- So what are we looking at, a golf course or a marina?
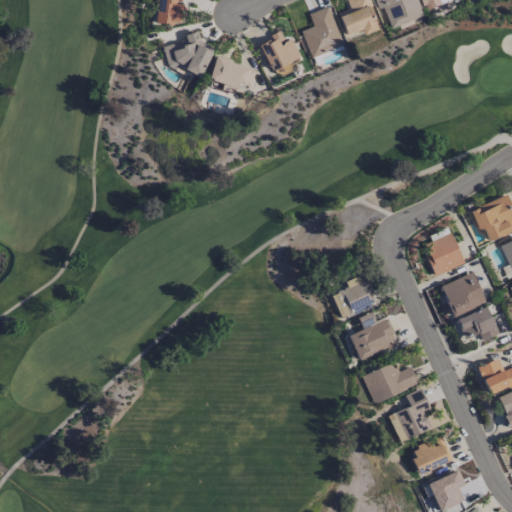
golf course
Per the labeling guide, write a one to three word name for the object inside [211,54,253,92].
house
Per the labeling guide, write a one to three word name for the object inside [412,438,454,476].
house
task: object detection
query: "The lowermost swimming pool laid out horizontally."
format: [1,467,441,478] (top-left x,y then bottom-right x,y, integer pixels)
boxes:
[207,93,229,107]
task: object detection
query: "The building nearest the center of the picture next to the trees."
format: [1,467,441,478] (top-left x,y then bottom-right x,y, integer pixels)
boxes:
[333,279,377,318]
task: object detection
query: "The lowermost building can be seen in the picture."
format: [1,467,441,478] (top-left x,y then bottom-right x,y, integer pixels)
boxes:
[428,469,467,511]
